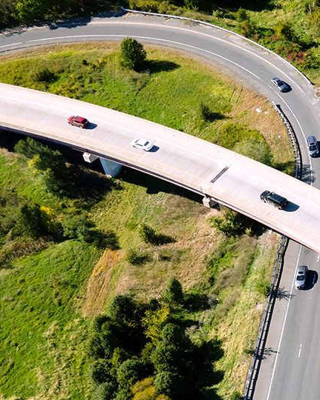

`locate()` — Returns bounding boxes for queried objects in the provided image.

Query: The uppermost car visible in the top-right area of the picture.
[272,77,290,93]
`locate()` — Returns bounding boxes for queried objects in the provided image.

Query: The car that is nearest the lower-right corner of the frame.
[294,264,310,289]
